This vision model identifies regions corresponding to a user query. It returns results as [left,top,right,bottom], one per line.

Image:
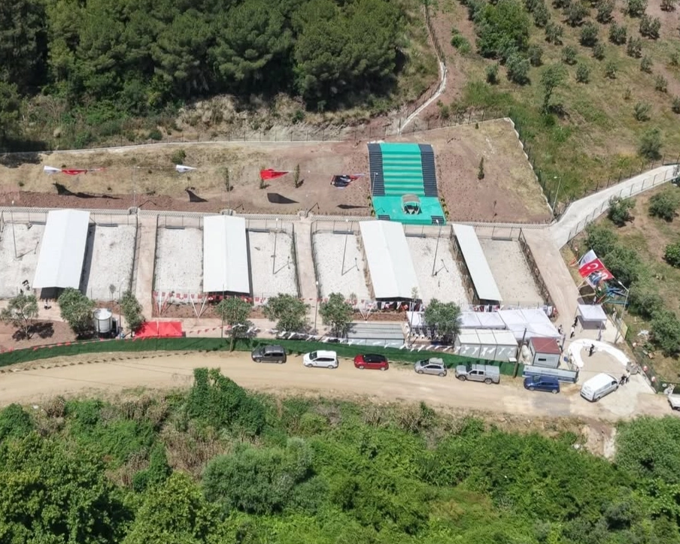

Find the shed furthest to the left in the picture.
[33,208,90,307]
